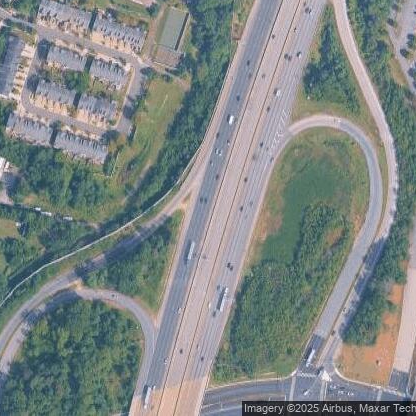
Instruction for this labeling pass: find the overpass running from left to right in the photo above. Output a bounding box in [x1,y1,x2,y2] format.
[128,377,208,416]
